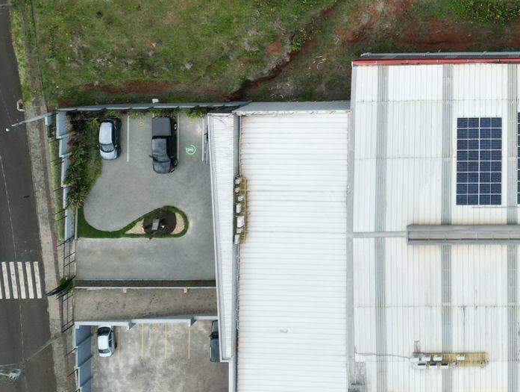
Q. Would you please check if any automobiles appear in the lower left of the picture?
Yes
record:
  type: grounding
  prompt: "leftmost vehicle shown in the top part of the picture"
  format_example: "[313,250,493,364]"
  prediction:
[97,119,121,160]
